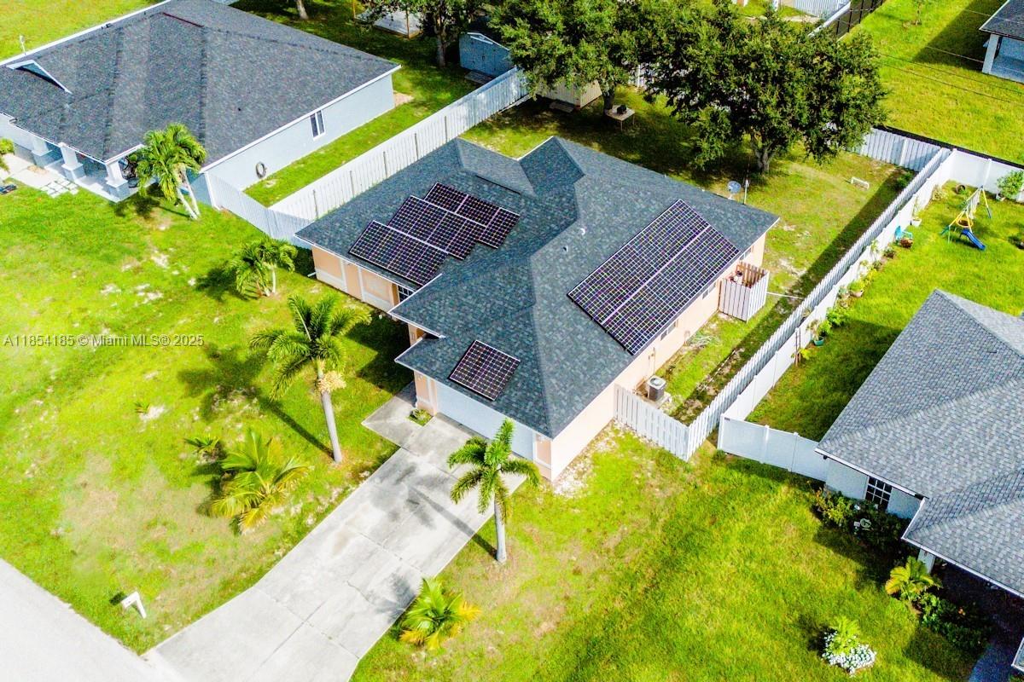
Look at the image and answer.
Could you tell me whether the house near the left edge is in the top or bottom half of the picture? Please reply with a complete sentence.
The top half of the photo is where the house near the left edge is.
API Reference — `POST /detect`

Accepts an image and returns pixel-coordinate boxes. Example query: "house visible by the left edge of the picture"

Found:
[0,0,402,210]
